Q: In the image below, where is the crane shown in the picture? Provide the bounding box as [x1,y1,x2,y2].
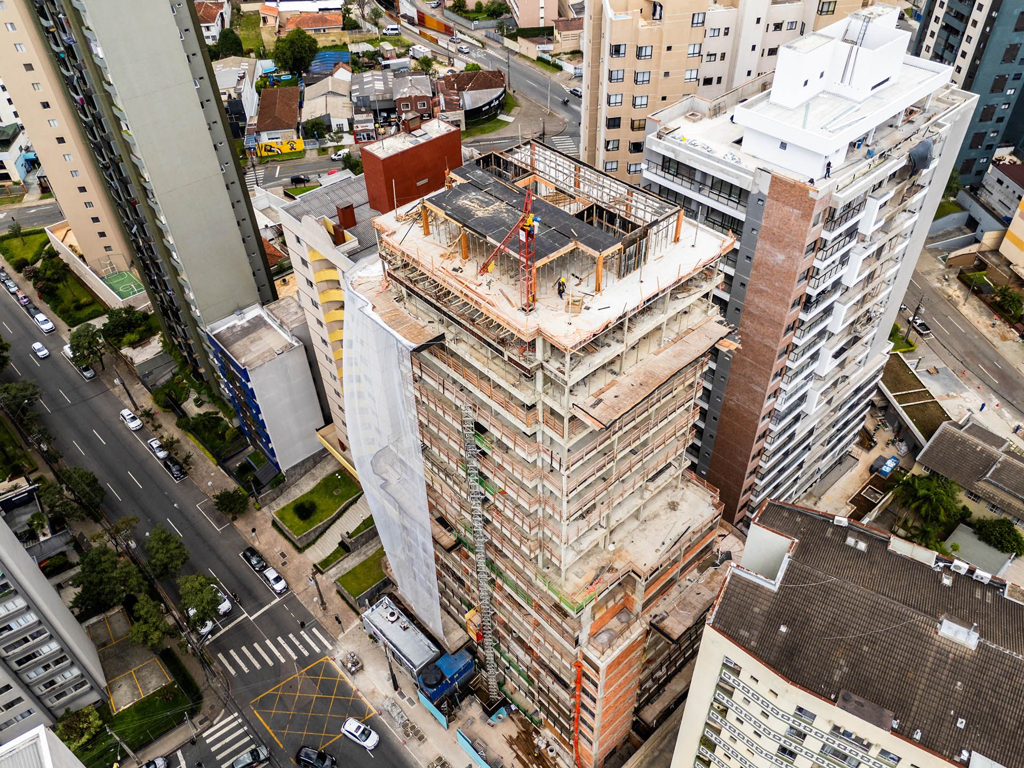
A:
[474,189,548,319]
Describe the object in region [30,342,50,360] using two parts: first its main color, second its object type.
white car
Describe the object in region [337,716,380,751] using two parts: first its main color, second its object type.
white car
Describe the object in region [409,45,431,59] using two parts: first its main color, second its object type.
white vehicle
